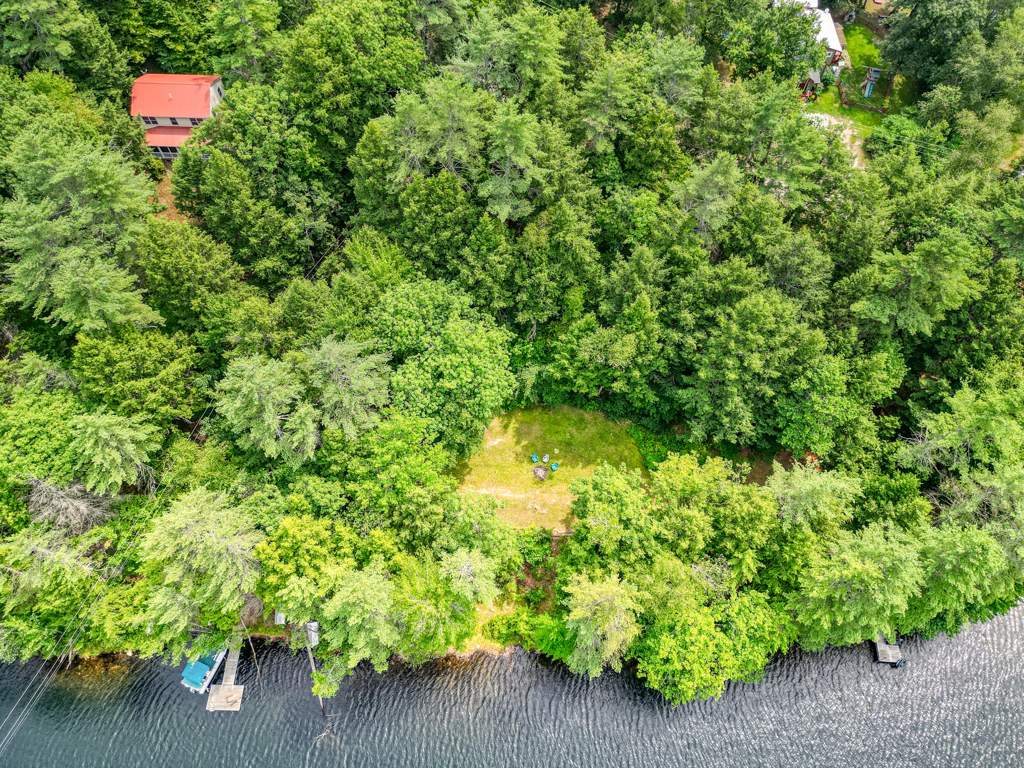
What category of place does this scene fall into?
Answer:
forest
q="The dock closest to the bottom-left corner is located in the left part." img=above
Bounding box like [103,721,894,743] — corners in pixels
[204,644,245,712]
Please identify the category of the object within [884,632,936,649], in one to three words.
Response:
boat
